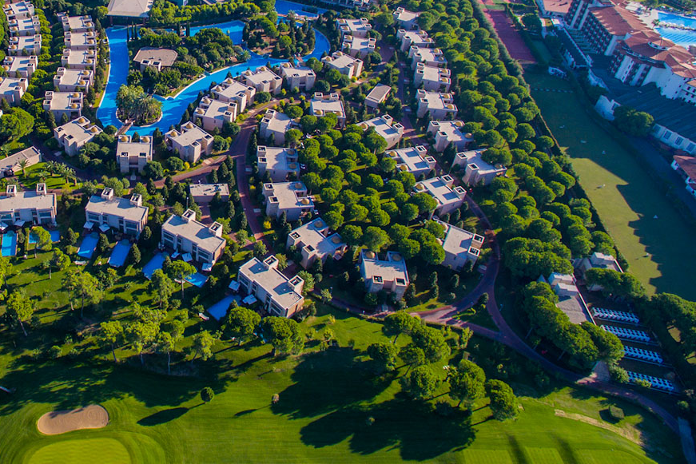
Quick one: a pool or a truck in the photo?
pool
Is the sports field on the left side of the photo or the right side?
right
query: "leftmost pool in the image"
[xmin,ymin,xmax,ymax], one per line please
[0,230,19,257]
